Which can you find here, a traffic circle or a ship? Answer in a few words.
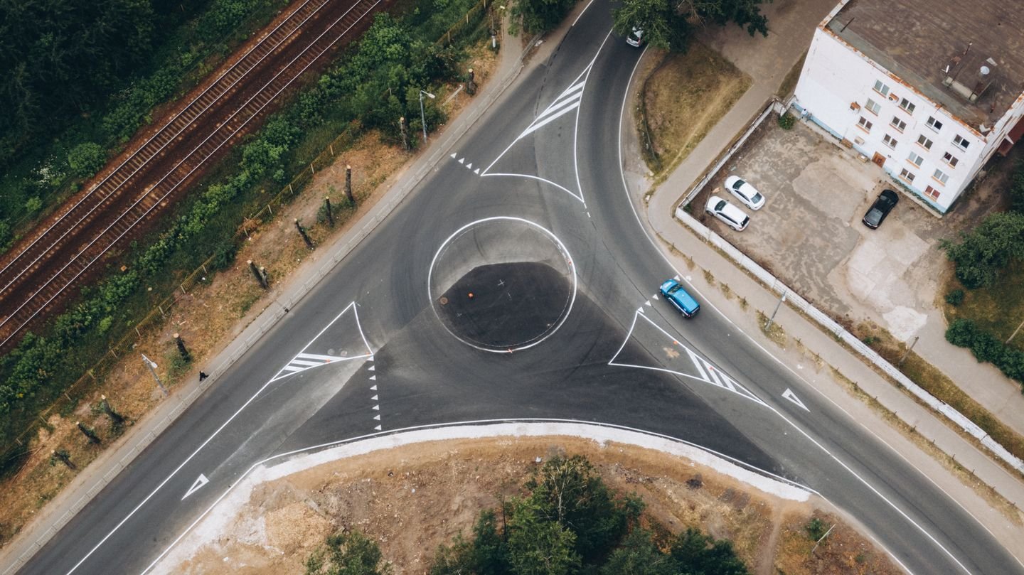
traffic circle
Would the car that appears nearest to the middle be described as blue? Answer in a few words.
Yes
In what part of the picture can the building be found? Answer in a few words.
top right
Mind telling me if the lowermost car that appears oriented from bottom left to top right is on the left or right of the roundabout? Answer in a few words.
to the right of it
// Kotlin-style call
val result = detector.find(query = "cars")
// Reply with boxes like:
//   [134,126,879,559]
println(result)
[722,174,766,212]
[658,279,701,320]
[864,190,900,233]
[627,31,648,47]
[703,196,751,232]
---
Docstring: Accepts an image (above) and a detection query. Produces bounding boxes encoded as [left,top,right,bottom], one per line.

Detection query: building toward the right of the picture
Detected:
[788,0,1024,218]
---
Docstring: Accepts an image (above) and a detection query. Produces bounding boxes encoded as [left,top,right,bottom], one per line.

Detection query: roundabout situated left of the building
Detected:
[271,57,770,430]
